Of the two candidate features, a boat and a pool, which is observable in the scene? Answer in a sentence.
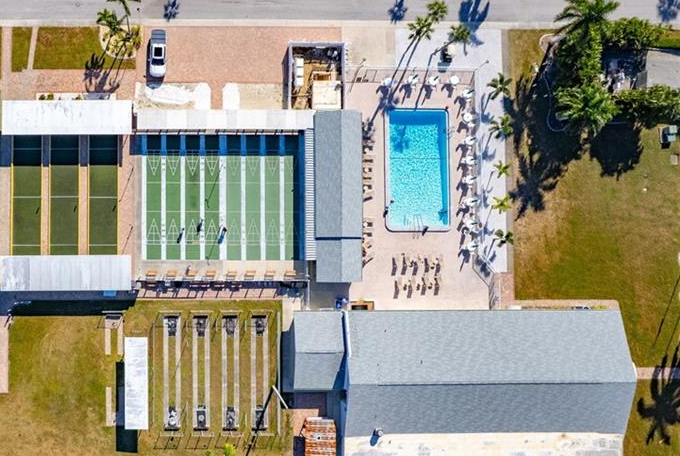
The one in the frame is a pool.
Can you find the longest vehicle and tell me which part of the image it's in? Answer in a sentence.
The longest vehicle sits in the top left section of the image.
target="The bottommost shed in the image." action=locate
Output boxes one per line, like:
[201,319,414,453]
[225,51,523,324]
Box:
[301,417,336,456]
